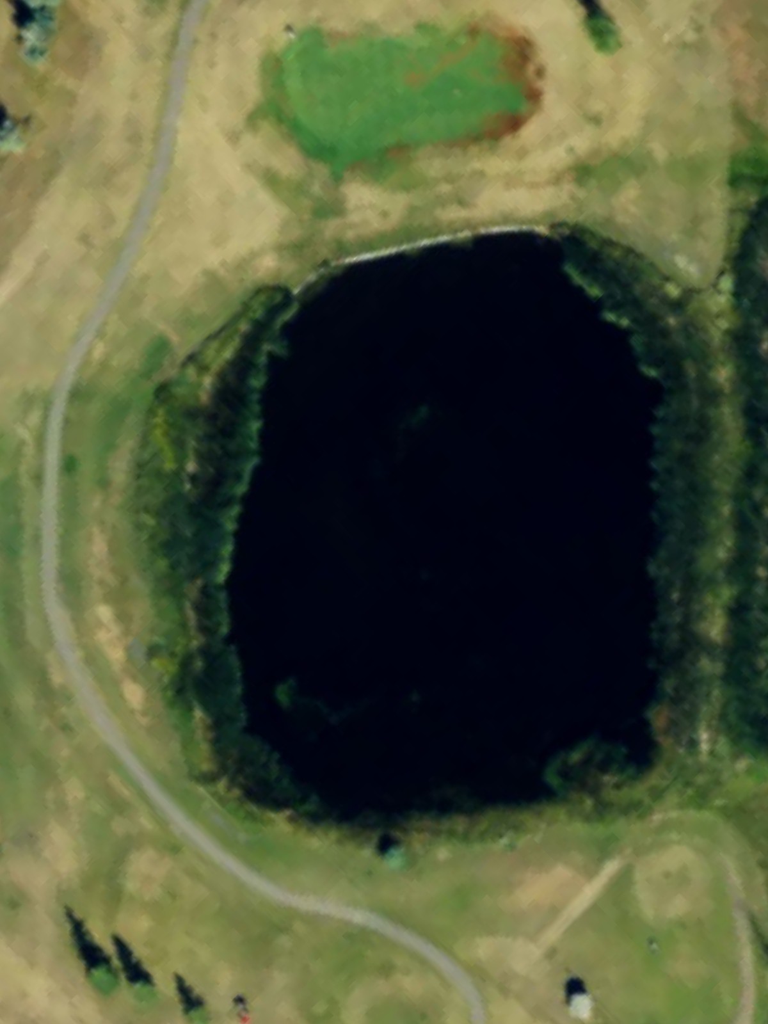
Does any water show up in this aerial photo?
Yes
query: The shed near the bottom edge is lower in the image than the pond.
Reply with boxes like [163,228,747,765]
[570,995,593,1022]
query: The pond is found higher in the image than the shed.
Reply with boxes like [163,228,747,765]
[224,230,662,821]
